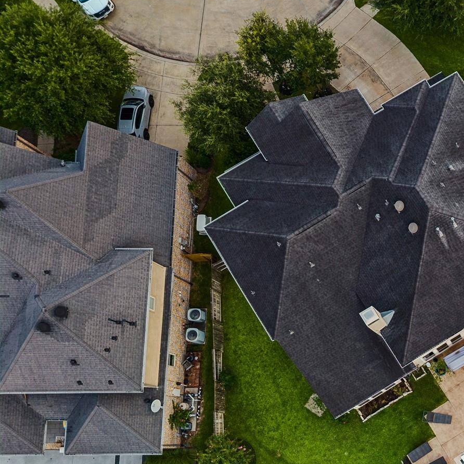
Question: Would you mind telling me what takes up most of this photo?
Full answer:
The scene is dominated by buildings.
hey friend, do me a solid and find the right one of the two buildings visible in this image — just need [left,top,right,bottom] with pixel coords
[203,72,464,419]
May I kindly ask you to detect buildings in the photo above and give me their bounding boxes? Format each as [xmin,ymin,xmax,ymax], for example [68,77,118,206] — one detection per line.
[203,72,464,419]
[0,121,197,457]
